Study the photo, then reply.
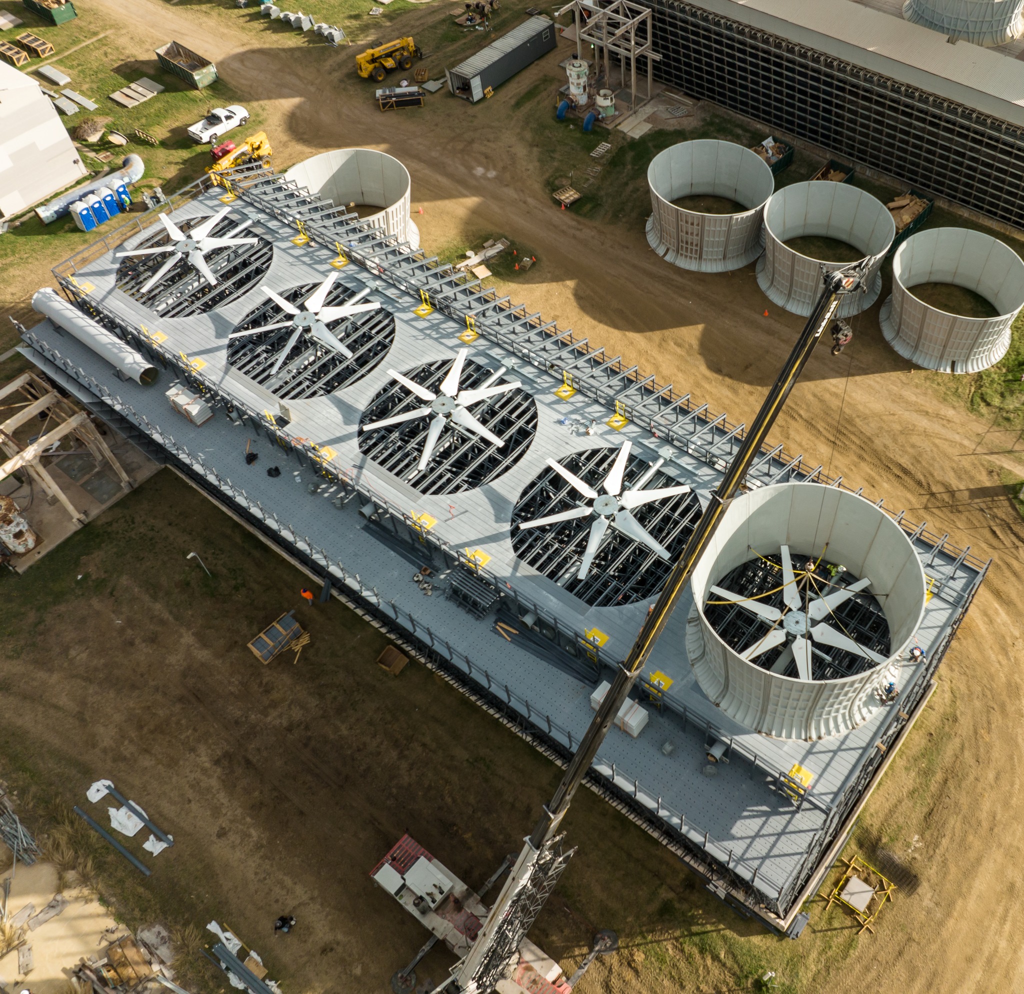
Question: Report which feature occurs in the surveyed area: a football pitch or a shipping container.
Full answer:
The one in the frame is a shipping container.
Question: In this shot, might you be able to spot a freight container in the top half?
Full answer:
Yes, a freight container can be seen in the top half.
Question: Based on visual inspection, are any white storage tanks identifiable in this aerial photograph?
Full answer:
No, there is no white storage tank in the image.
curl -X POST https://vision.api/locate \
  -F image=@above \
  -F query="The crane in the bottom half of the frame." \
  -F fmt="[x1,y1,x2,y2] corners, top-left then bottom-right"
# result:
[362,258,871,994]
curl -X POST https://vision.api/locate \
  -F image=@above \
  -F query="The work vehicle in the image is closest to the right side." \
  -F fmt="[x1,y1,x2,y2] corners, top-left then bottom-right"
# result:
[345,38,425,83]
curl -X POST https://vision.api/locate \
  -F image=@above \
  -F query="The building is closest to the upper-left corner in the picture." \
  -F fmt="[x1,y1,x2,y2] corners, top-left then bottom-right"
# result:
[0,56,88,219]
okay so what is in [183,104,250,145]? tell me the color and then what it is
white truck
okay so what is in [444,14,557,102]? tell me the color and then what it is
gray shipping container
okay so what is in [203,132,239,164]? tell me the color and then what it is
red storage tank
